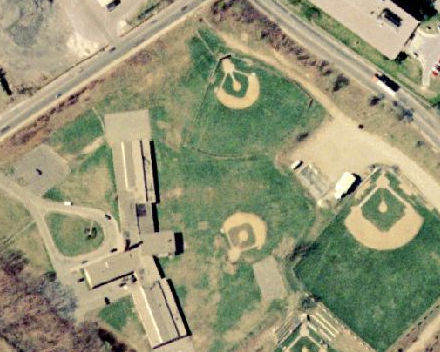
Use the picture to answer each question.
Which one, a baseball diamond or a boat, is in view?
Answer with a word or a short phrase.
baseball diamond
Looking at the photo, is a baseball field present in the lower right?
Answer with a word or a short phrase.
Yes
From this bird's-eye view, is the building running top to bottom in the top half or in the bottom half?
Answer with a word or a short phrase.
bottom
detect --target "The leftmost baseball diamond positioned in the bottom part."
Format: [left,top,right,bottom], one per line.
[221,211,266,262]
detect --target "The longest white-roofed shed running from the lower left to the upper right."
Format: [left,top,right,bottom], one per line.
[332,172,356,199]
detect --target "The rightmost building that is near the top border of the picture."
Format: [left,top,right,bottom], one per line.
[299,0,419,63]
